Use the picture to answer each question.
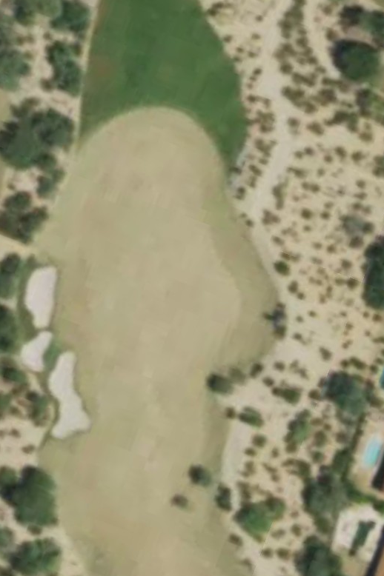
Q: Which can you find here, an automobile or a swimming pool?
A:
swimming pool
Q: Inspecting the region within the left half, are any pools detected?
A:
No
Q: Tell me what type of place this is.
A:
golf course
